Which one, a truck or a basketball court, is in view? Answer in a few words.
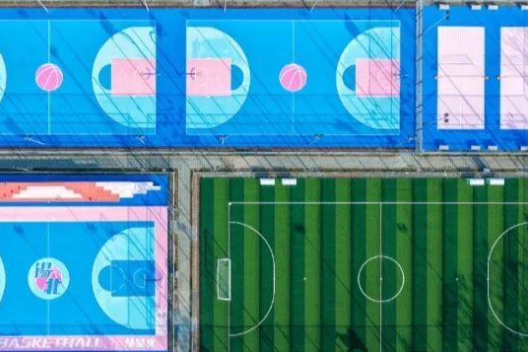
basketball court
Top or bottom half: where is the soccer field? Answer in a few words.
bottom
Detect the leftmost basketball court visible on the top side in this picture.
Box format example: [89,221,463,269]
[0,7,171,147]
